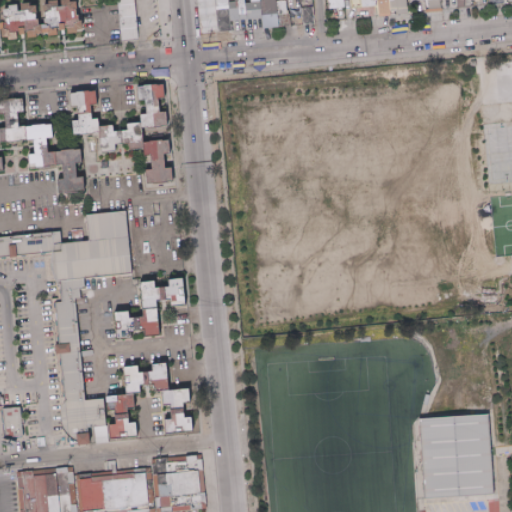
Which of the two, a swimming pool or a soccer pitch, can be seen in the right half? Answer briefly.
soccer pitch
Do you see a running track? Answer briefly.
No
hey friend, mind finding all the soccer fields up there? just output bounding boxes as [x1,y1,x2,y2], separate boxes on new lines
[491,196,512,257]
[256,338,435,512]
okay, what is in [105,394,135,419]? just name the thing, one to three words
house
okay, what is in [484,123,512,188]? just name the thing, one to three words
basketball court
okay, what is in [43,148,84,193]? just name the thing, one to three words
house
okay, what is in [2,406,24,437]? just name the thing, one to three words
building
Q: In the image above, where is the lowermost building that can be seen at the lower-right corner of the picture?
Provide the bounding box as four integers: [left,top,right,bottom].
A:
[420,415,495,498]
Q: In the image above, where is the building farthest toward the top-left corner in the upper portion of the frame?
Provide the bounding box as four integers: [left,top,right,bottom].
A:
[0,2,38,40]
